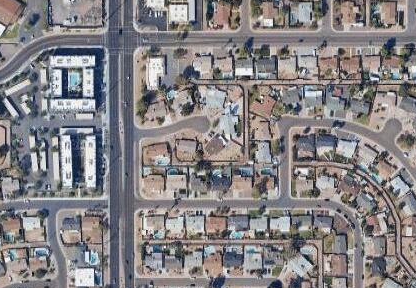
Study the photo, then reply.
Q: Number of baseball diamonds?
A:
0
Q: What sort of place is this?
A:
residential area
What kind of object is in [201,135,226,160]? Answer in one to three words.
house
